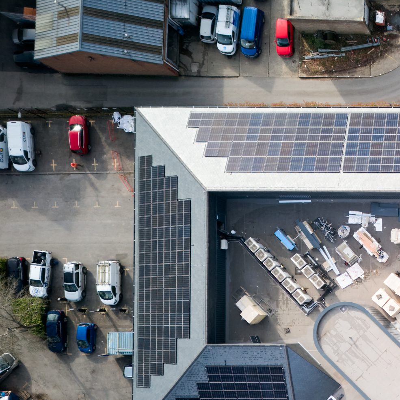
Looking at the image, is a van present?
Yes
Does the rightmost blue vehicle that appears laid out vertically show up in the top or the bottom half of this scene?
top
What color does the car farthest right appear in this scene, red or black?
red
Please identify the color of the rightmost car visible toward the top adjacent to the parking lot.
red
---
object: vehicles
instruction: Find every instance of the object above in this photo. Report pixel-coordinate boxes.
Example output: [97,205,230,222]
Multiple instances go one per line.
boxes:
[6,120,38,172]
[93,260,123,306]
[10,48,51,70]
[0,123,15,173]
[241,4,265,59]
[28,250,56,298]
[274,18,295,58]
[46,310,71,354]
[198,7,218,46]
[215,2,242,57]
[66,115,92,156]
[10,24,35,48]
[62,262,88,304]
[7,255,32,296]
[0,346,26,389]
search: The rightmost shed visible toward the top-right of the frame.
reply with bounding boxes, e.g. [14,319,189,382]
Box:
[288,0,372,35]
